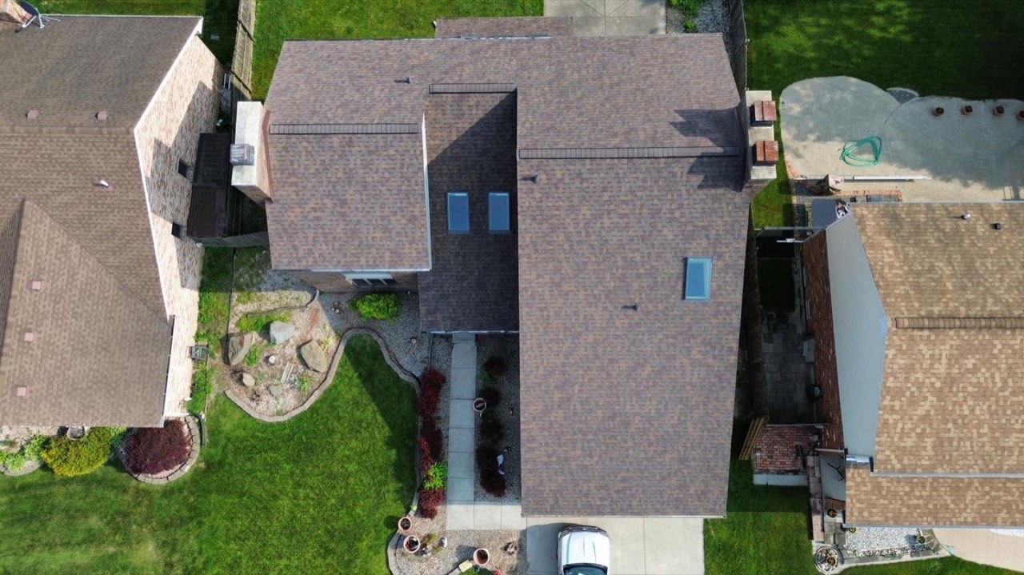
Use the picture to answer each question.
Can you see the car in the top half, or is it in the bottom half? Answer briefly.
bottom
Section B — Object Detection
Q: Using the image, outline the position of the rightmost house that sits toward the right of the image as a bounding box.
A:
[803,200,1024,528]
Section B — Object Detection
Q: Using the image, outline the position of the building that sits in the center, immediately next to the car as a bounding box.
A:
[229,16,779,518]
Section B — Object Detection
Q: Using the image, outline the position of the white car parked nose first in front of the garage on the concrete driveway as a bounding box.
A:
[554,522,617,575]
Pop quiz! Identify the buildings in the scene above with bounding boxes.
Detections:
[0,0,218,430]
[803,200,1024,528]
[229,16,779,518]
